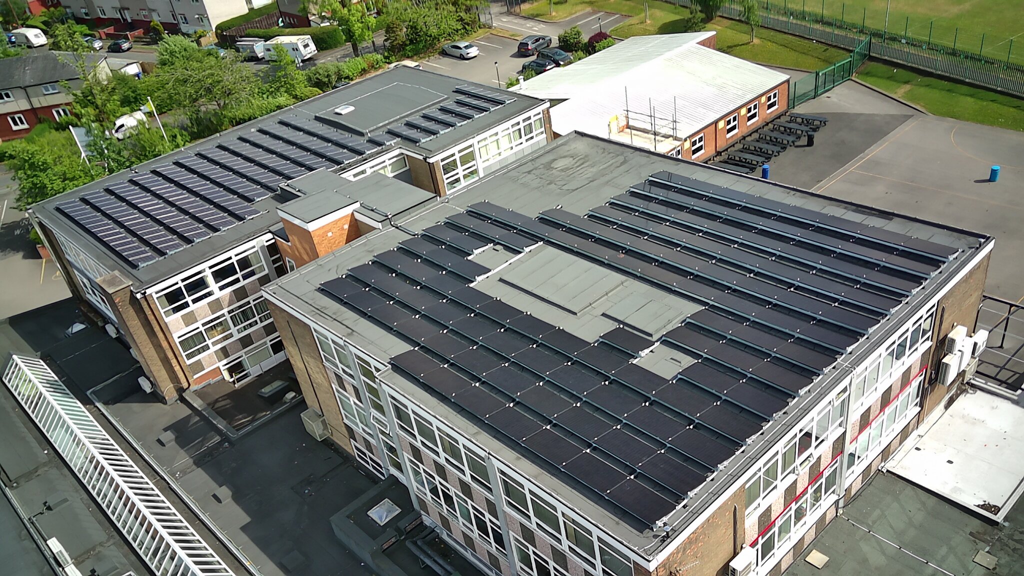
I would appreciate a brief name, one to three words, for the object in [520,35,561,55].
car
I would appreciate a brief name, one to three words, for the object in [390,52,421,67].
car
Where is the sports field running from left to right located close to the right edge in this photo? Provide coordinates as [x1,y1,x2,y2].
[729,0,1024,70]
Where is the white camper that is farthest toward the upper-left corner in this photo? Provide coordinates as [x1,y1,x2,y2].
[7,25,42,47]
